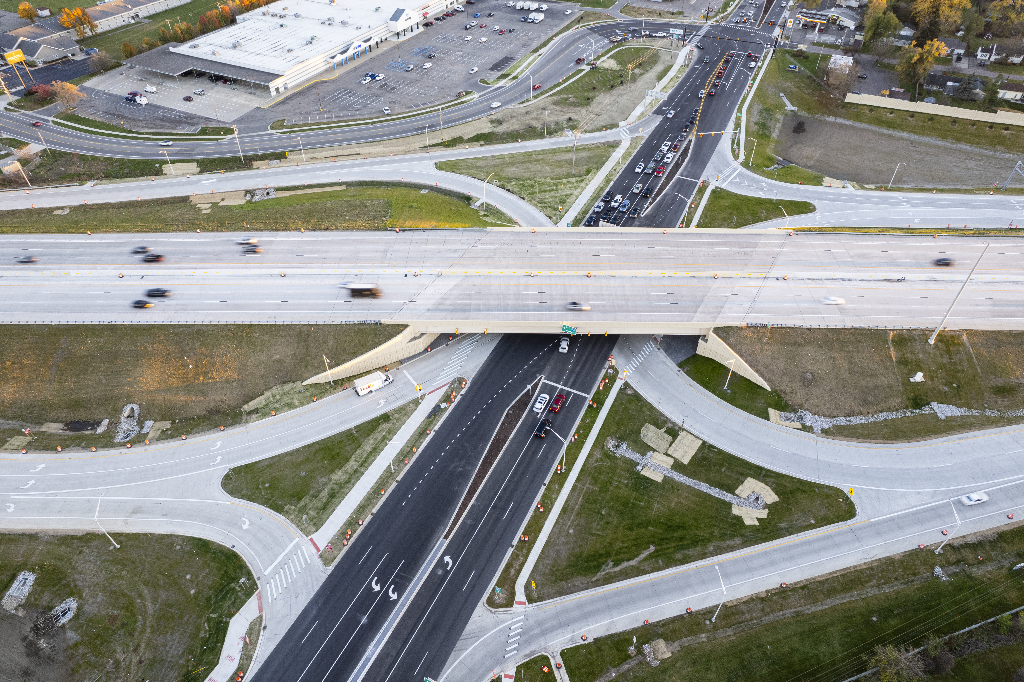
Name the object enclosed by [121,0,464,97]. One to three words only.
building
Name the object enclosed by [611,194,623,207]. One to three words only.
vehicle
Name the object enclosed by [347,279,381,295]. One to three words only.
vehicle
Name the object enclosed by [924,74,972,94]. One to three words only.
house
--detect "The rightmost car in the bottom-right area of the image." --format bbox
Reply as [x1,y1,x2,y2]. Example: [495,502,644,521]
[959,493,988,508]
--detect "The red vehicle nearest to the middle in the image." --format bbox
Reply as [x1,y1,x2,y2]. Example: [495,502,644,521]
[549,395,566,413]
